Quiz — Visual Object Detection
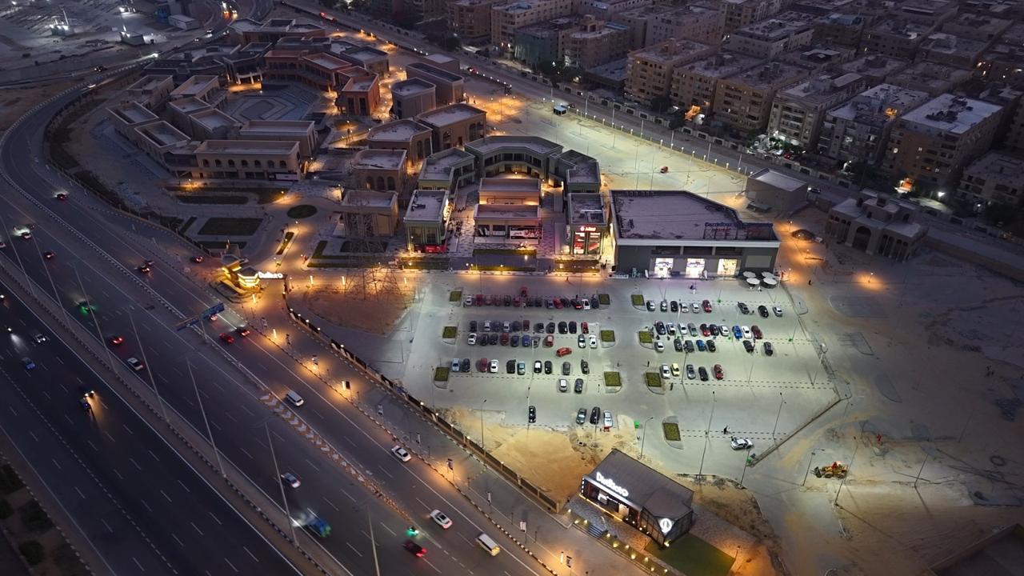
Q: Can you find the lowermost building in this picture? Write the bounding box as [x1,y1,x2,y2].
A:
[579,448,695,550]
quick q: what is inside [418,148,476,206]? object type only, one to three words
building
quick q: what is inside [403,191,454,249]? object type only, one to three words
building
